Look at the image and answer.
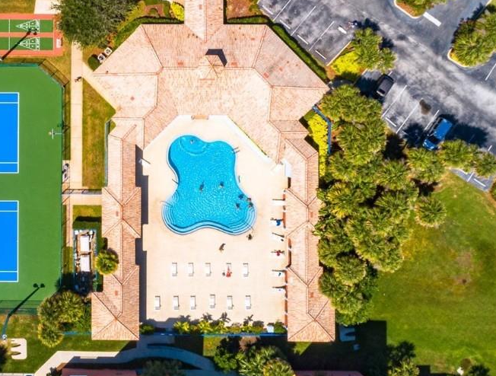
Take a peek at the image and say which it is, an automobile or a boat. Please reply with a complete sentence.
I can see an automobile in this picture.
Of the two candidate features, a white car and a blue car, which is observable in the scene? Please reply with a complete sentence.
The one in the frame is a blue car.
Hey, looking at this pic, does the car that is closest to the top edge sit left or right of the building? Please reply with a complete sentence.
In the image, the car that is closest to the top edge sits on the right side of the building.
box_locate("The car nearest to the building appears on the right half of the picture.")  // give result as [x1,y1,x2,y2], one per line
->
[368,70,398,105]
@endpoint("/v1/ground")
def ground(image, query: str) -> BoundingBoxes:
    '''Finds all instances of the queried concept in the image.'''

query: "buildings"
[90,0,336,343]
